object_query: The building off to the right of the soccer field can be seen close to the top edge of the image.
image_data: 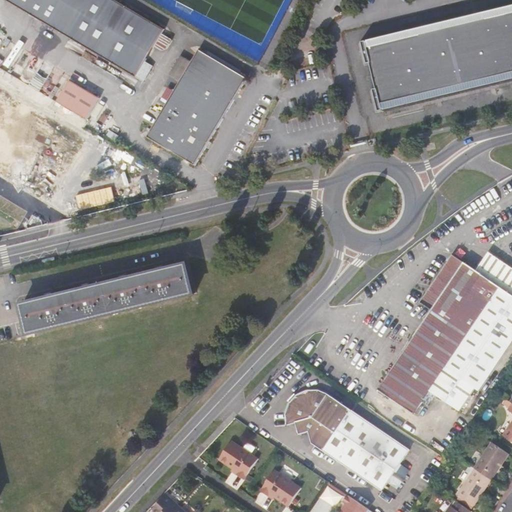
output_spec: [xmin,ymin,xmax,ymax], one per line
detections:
[360,4,512,110]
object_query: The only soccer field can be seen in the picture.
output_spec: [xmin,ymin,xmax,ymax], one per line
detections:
[140,0,296,64]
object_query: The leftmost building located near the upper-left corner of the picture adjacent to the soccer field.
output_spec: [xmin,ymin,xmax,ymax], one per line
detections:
[4,0,166,76]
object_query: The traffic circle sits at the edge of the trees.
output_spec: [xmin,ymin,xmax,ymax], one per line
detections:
[312,146,471,280]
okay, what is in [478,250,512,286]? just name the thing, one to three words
building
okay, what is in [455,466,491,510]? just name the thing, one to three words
house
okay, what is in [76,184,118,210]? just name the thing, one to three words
shed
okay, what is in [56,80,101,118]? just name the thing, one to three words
shed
